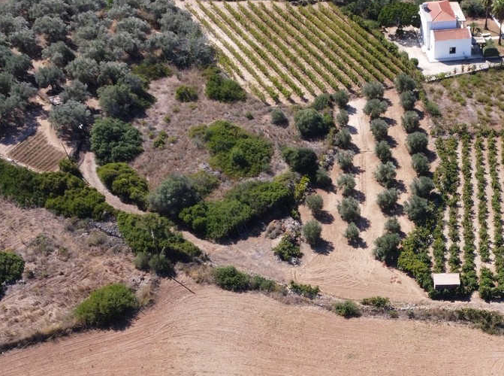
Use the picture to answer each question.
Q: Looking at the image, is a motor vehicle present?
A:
No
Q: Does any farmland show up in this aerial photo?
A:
Yes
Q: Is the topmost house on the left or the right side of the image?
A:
right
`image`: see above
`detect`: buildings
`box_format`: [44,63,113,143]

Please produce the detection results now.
[411,0,475,59]
[432,268,462,290]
